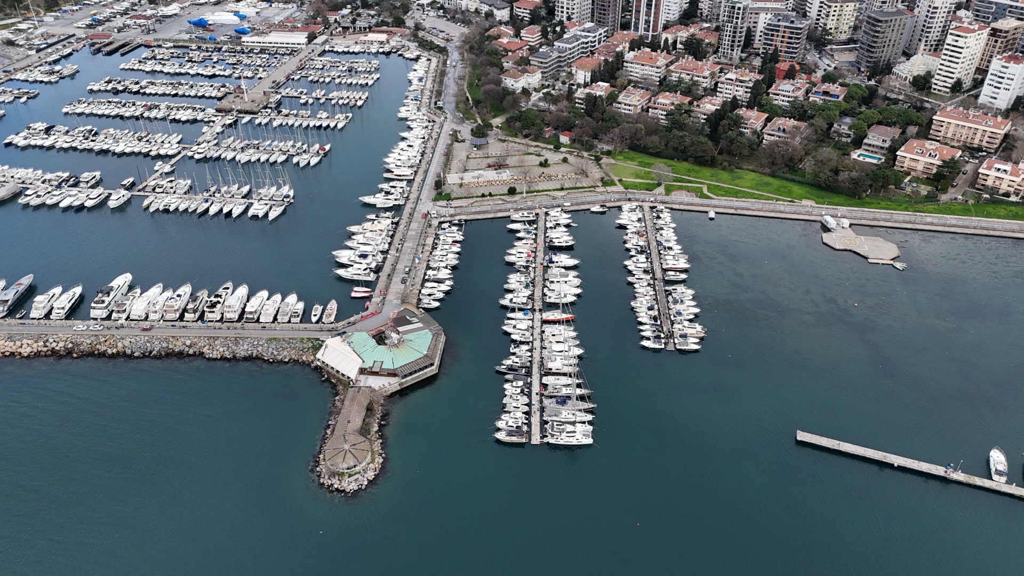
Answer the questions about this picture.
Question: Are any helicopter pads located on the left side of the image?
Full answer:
No, no helicopter pad can be made out on the left side of the image.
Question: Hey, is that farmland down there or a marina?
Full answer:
This image shows a marina.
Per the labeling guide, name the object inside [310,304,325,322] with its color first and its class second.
white boat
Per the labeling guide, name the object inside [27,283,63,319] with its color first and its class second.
white boat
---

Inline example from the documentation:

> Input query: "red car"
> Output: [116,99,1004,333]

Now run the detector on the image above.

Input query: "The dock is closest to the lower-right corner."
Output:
[795,430,1024,499]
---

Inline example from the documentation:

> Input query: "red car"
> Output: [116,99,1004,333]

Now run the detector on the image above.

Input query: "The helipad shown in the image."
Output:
[821,223,900,261]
